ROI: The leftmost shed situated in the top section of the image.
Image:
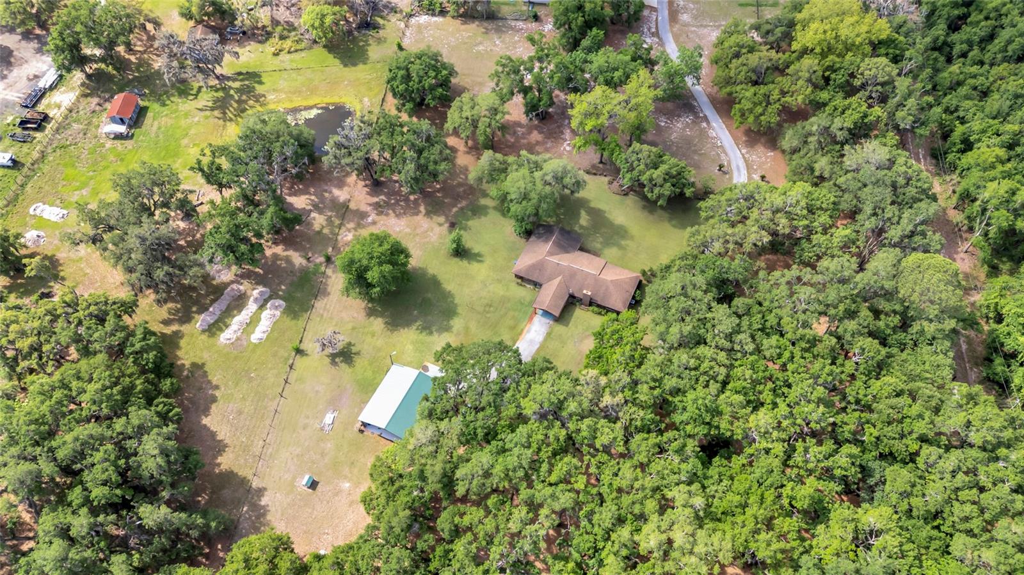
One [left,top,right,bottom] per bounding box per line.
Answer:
[104,90,143,132]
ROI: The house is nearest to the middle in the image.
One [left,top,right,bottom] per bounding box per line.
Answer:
[511,225,641,324]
